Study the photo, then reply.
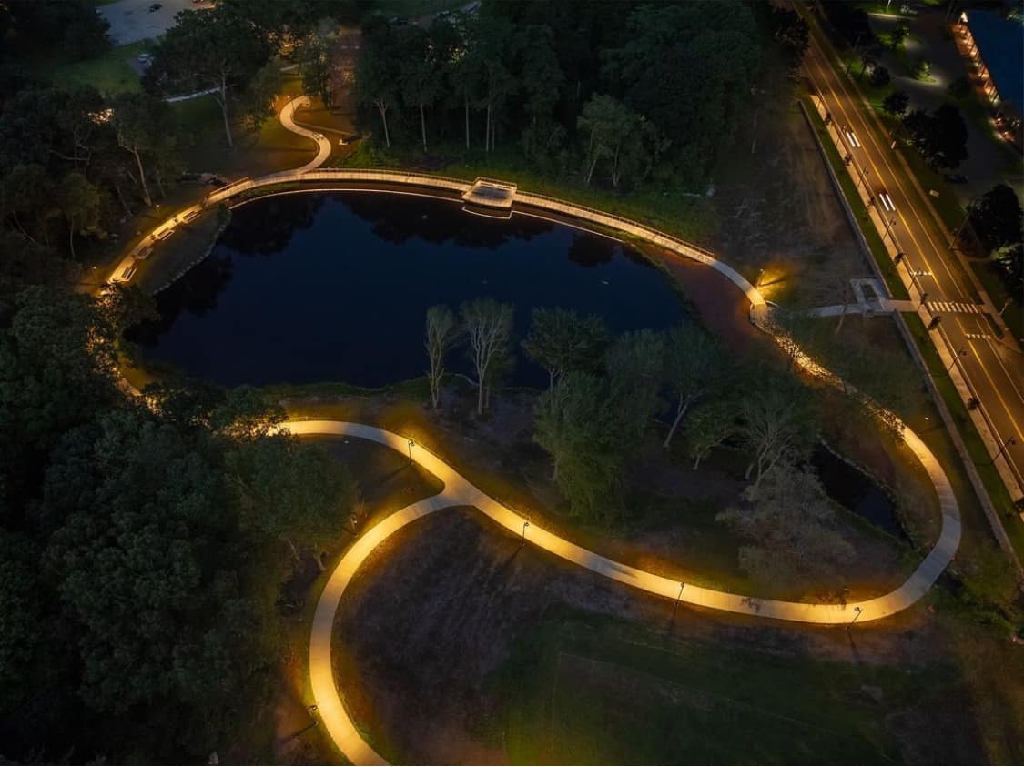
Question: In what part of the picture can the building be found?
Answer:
top right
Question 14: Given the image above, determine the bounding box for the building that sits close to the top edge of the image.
[960,10,1024,122]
